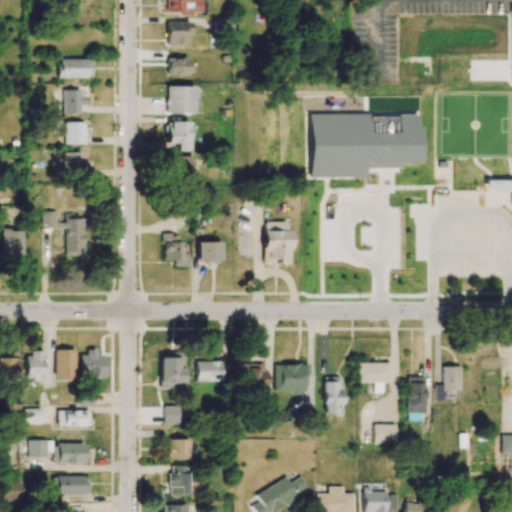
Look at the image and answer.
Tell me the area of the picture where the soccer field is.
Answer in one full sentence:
The soccer field appears toward the top right of the photo.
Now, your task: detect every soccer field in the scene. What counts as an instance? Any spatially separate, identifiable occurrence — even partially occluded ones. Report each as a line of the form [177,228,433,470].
[438,91,512,158]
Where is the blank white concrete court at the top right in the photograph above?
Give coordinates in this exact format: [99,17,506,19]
[468,60,512,82]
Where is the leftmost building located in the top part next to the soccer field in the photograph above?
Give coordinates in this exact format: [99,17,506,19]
[311,114,430,176]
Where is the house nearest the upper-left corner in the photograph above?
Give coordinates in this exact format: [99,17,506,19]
[60,58,96,79]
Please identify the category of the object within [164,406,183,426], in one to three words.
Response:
building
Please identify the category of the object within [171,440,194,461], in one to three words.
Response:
house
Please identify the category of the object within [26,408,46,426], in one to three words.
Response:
building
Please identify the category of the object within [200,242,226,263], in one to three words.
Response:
house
